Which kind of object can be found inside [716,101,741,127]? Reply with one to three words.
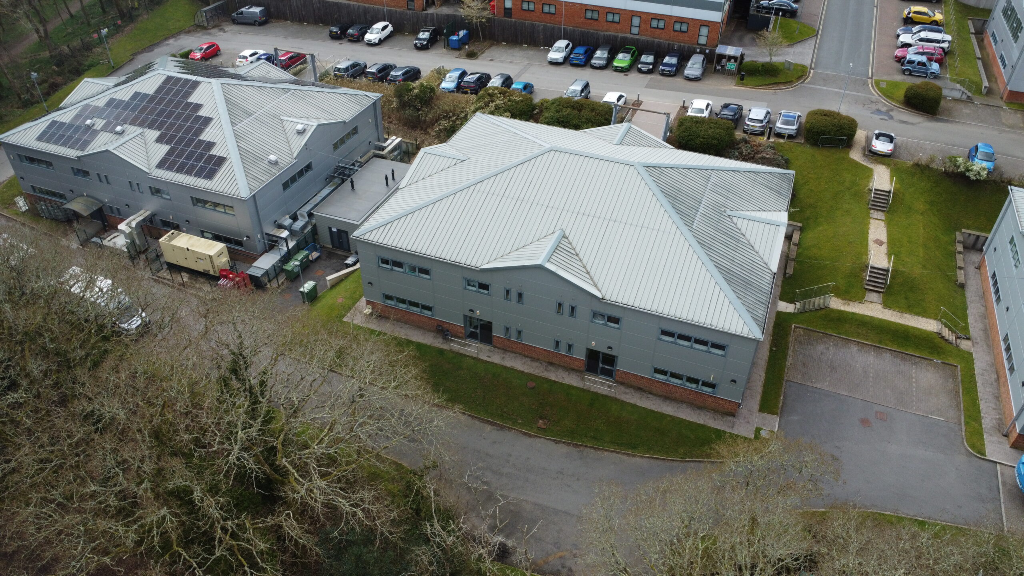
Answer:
car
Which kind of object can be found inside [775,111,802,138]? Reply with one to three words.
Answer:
car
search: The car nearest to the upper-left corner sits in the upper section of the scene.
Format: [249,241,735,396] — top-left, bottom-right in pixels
[184,38,221,60]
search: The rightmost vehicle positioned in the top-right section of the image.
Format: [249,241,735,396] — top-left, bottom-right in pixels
[967,138,1002,167]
